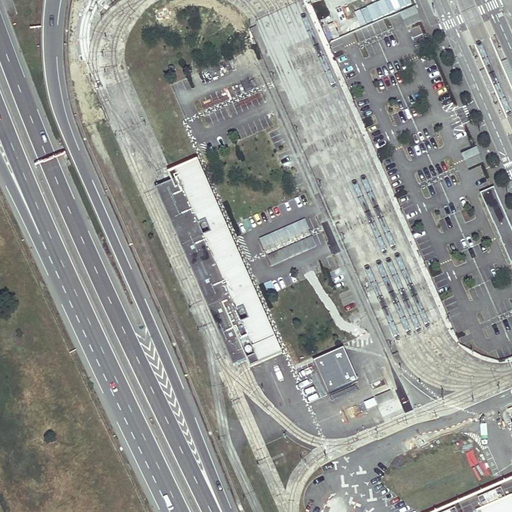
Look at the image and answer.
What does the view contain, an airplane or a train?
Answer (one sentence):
The image shows a train.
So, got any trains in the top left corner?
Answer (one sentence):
No, there is no train in the top left corner.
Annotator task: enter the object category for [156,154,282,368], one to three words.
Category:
building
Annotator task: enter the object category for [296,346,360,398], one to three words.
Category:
building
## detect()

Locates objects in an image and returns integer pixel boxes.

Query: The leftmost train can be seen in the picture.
[302,14,335,86]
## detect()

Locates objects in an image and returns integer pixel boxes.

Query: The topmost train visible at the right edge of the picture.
[477,42,511,114]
